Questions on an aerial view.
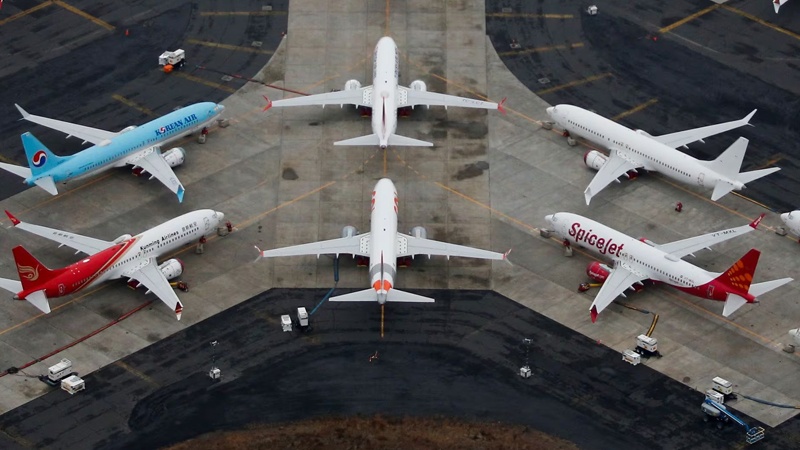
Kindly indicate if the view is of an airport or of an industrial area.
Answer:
airport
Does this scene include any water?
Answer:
No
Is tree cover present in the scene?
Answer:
No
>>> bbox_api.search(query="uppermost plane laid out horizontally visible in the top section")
[262,38,506,149]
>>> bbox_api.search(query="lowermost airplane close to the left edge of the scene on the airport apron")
[0,210,225,320]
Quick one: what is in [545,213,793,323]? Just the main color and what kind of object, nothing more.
white airplane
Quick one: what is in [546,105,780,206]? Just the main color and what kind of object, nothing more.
white airplane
